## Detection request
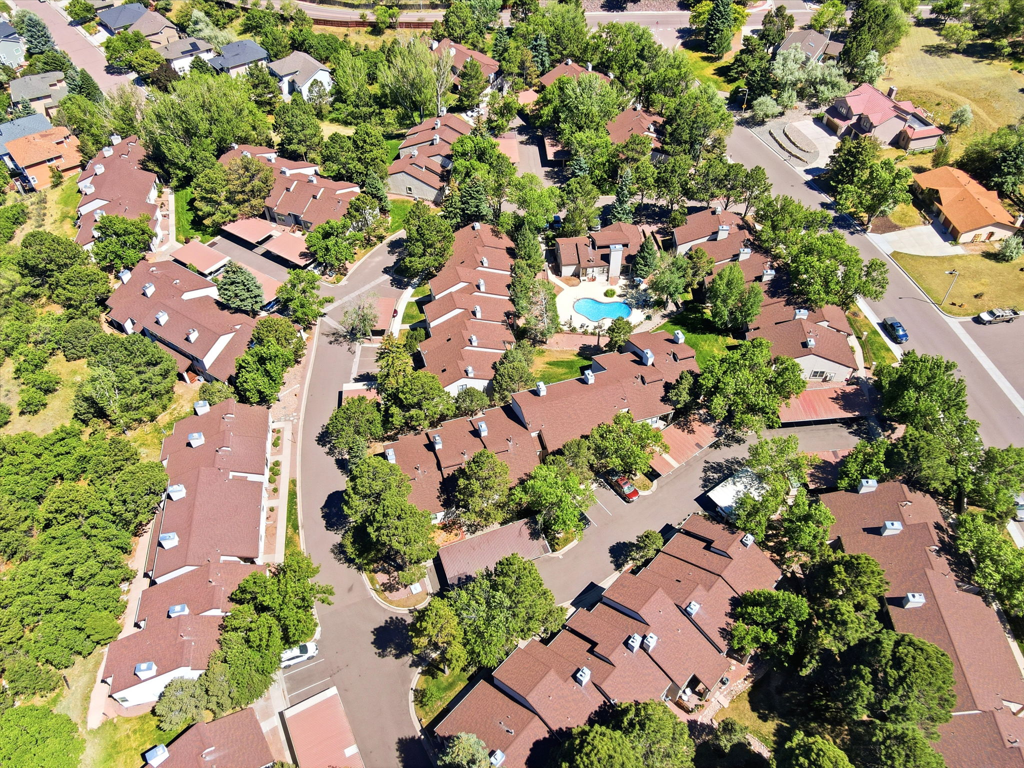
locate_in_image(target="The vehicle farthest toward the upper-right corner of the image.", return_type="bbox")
[980,305,1024,326]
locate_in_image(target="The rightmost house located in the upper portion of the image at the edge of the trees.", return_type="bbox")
[912,166,1023,247]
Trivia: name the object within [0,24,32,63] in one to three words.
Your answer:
house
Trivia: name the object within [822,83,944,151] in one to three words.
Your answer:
house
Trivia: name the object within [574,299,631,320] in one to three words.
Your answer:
swimming pool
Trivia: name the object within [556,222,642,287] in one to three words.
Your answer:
building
